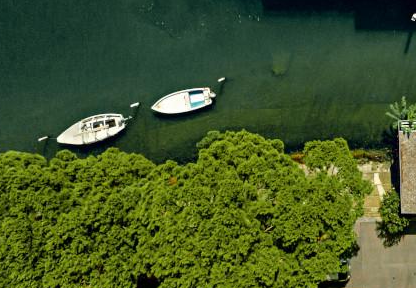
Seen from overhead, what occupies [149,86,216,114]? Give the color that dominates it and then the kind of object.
white boat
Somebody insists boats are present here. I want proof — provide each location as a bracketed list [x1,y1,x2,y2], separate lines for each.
[55,115,131,145]
[149,86,216,114]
